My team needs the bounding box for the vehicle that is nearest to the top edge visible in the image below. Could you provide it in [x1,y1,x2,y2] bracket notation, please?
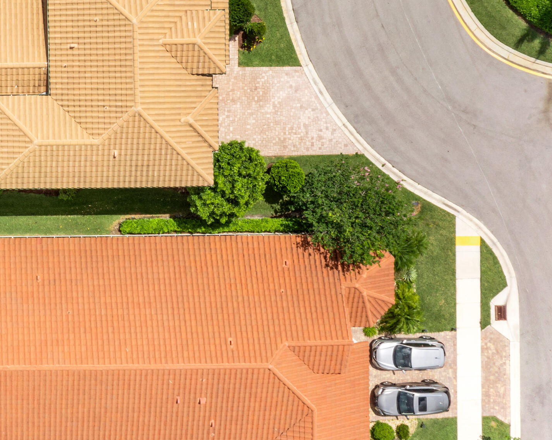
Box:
[371,335,450,373]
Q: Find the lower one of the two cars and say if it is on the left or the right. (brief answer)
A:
right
